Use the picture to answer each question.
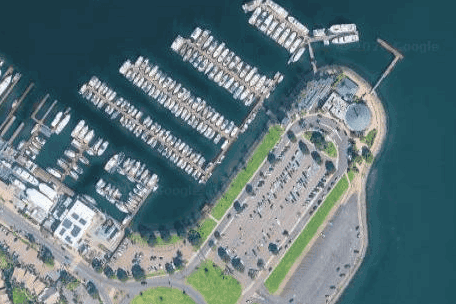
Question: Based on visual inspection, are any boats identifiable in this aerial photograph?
Yes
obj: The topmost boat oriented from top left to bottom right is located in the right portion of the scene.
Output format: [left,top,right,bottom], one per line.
[268,0,289,17]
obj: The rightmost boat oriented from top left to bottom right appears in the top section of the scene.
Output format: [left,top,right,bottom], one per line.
[289,16,310,34]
